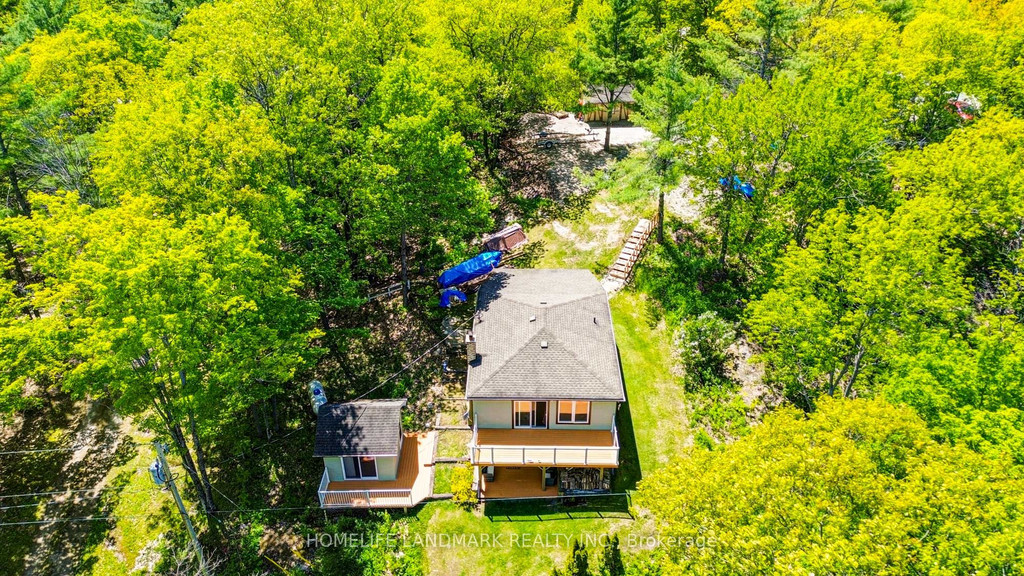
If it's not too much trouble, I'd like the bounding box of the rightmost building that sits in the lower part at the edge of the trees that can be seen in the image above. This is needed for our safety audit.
[462,269,628,507]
